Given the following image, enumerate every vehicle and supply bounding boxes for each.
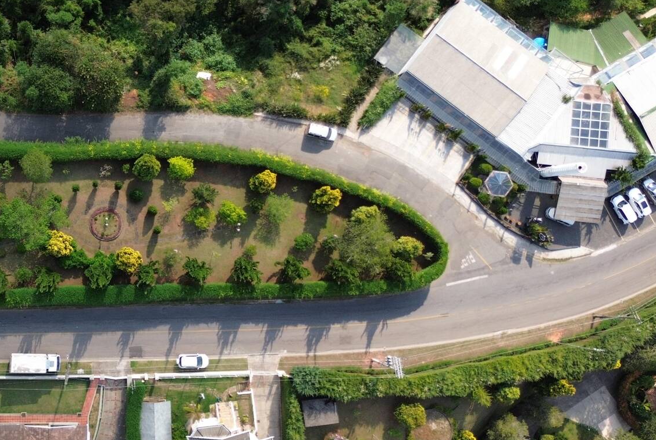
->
[624,188,652,217]
[305,124,336,141]
[177,354,209,370]
[612,199,636,225]
[639,177,656,204]
[539,209,570,228]
[10,354,61,373]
